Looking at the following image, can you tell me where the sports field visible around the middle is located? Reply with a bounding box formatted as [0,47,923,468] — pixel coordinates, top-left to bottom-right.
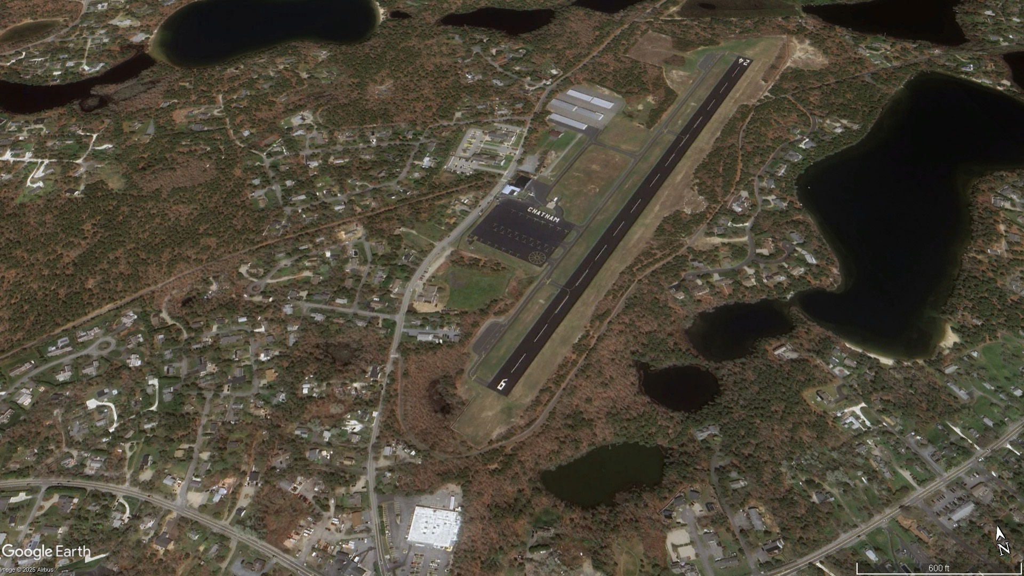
[446,269,510,310]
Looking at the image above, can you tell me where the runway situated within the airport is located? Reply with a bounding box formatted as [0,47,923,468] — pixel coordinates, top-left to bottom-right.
[487,55,753,396]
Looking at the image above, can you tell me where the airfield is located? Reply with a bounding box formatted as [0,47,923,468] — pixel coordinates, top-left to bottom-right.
[467,50,753,396]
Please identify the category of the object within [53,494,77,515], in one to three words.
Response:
house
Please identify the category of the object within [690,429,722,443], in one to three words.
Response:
house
